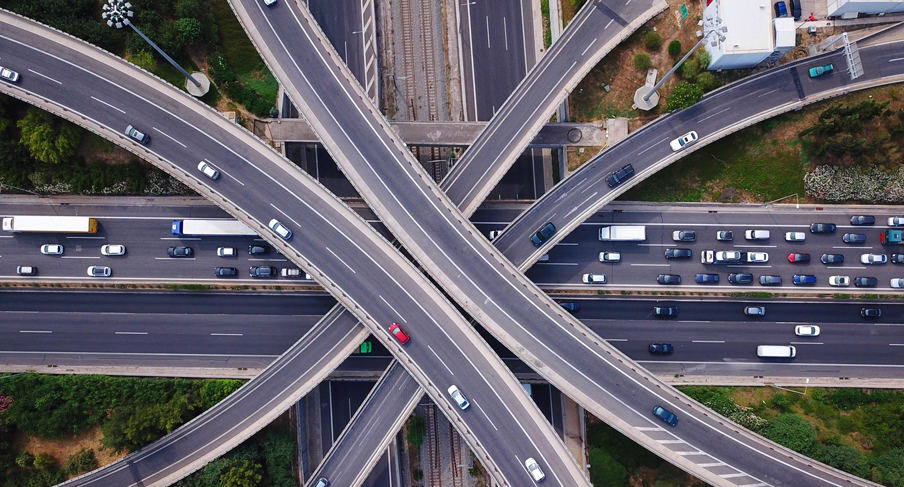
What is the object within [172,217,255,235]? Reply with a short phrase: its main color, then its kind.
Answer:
white vehicle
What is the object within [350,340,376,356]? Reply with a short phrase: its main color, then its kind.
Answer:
green vehicle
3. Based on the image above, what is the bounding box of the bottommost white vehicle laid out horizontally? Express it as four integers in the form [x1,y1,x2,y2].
[757,346,795,358]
